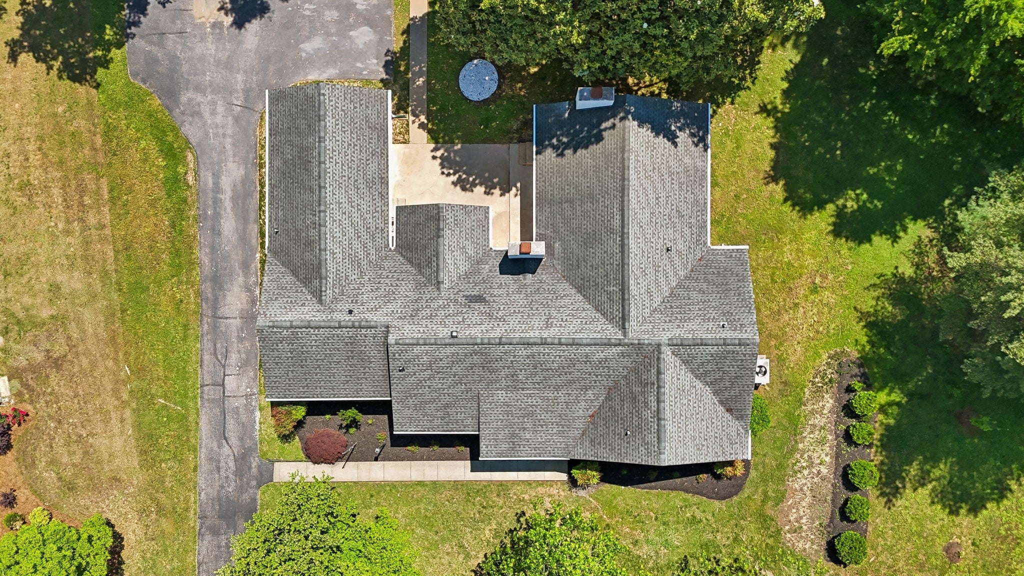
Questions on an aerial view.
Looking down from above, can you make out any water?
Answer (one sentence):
No, no water is visible.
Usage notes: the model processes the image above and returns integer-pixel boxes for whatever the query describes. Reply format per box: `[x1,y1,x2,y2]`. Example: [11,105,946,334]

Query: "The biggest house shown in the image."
[255,83,763,467]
